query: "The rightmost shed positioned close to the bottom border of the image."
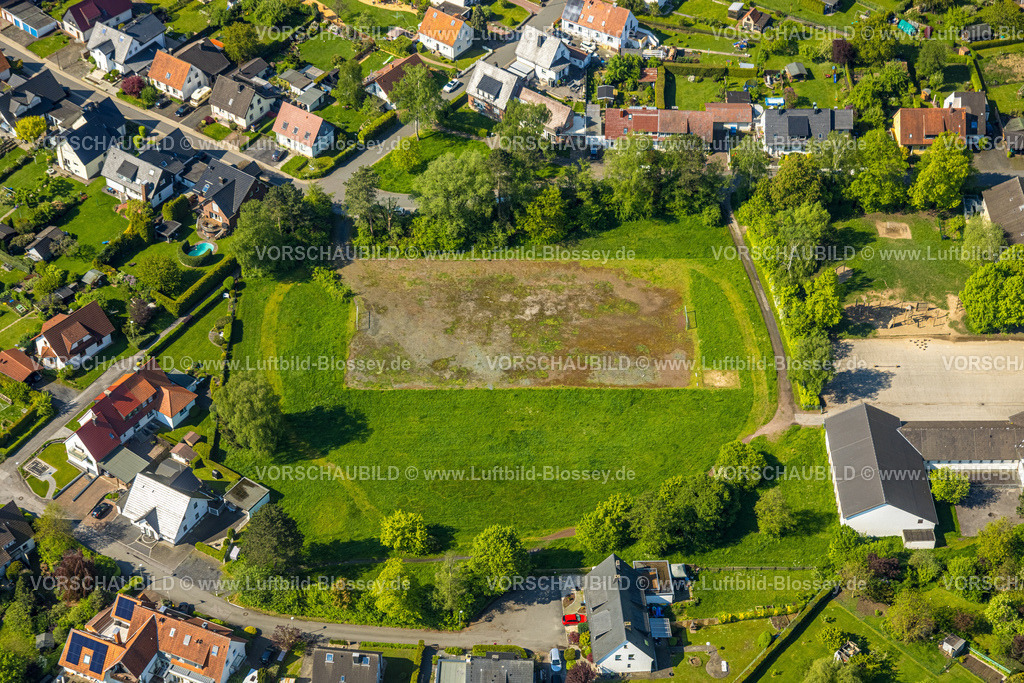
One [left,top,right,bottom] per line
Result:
[943,633,966,658]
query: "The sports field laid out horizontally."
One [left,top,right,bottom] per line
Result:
[346,259,695,391]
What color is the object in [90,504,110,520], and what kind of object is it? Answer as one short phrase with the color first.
black car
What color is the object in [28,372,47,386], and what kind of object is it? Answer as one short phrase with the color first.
black car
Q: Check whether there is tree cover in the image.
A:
Yes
